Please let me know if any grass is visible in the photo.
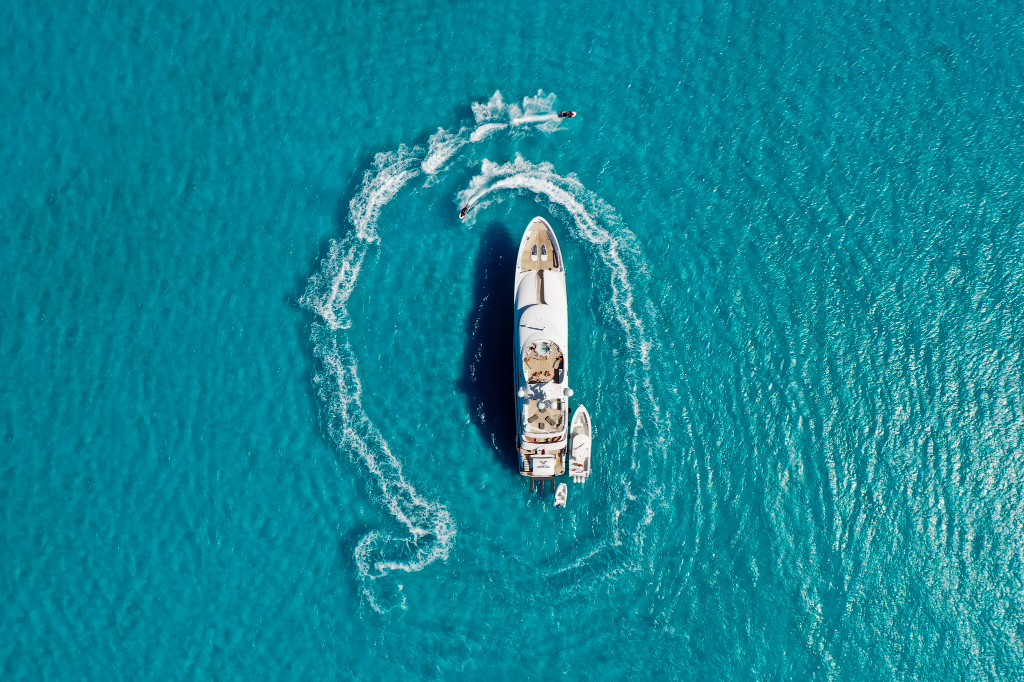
No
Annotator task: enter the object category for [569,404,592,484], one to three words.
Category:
boat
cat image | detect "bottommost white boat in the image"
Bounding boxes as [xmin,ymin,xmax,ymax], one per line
[553,482,568,510]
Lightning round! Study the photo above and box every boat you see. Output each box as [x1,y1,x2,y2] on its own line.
[569,404,592,484]
[513,217,573,477]
[460,203,470,219]
[553,482,568,510]
[558,111,576,118]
